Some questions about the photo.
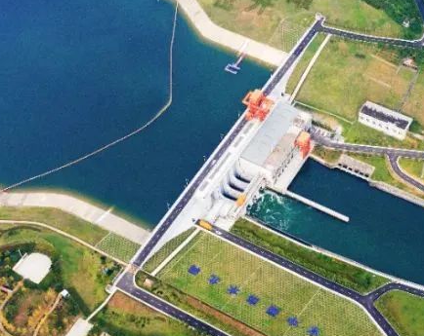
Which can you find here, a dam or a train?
dam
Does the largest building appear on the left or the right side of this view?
right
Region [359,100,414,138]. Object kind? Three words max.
building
